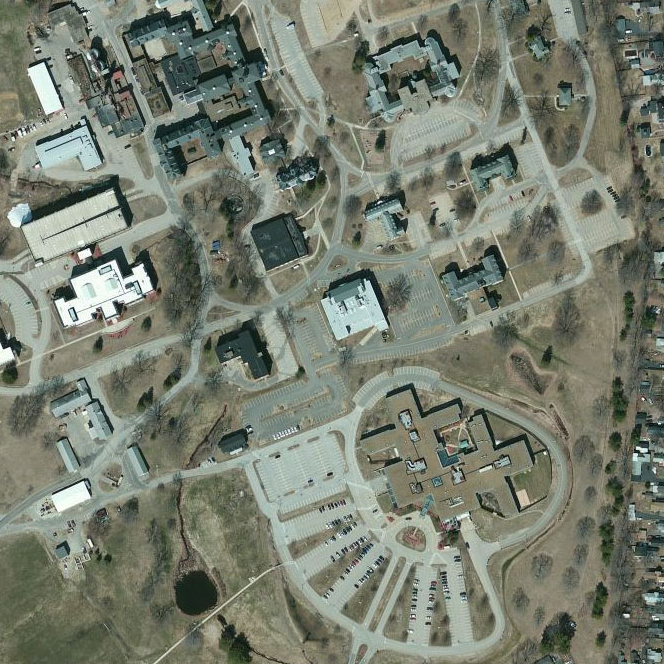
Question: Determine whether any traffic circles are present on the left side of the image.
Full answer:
No, the scene shows no traffic circle on the left side of the image.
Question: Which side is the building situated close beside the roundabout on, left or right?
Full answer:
It is on the right.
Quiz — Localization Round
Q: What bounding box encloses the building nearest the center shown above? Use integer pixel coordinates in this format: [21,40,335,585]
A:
[321,279,388,340]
